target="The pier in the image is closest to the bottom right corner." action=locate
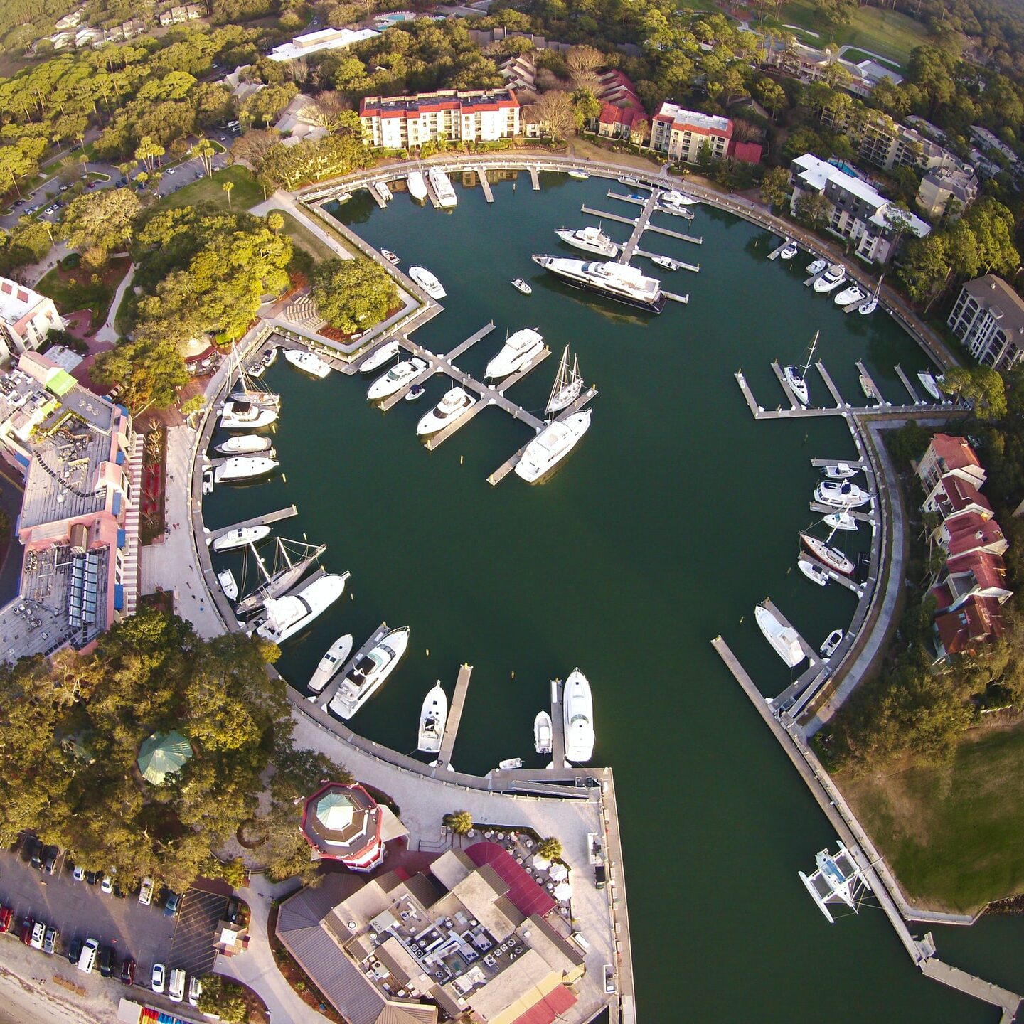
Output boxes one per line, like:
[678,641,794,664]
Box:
[923,957,1021,1024]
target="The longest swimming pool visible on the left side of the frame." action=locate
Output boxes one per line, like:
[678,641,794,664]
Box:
[377,11,415,29]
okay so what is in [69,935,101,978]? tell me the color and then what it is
white van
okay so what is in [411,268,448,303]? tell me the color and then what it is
white boat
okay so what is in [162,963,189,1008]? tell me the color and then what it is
white vehicle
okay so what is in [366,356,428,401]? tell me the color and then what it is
white boat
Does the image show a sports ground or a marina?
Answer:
marina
